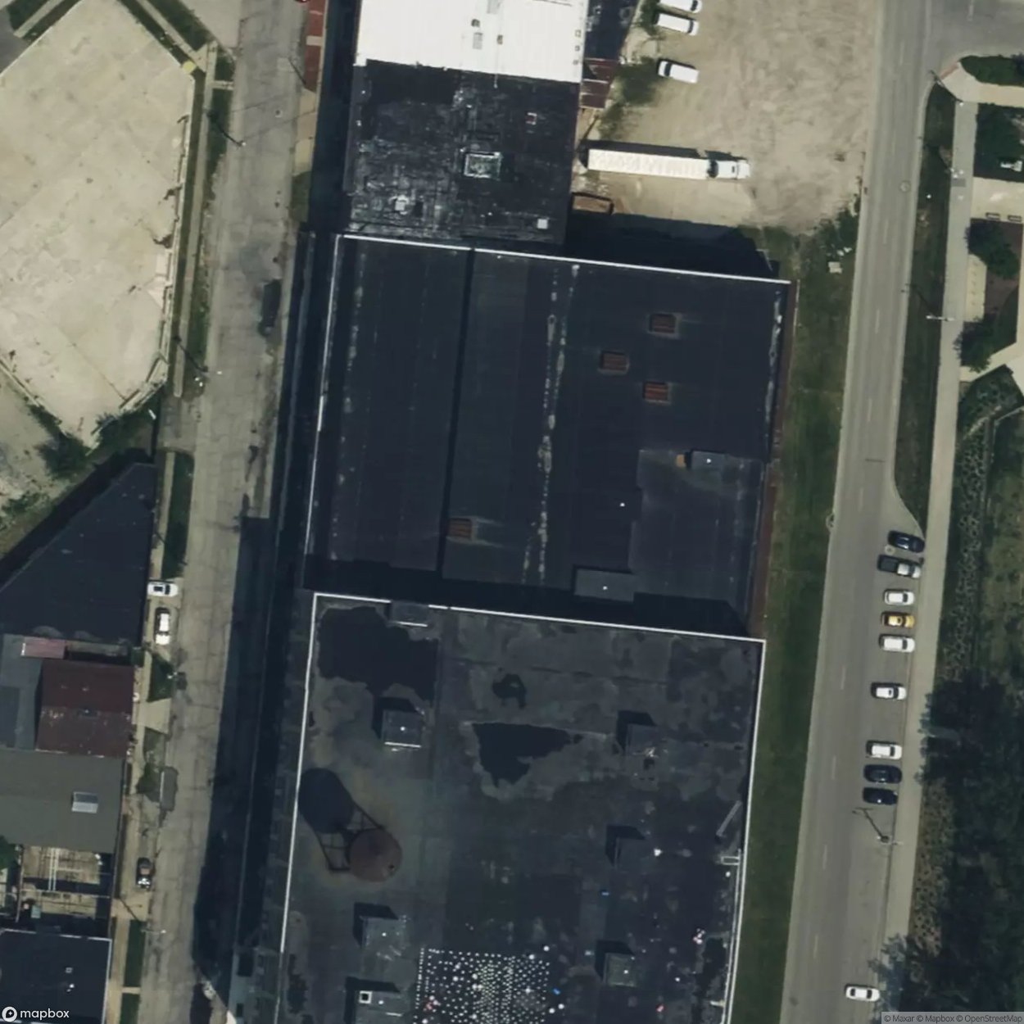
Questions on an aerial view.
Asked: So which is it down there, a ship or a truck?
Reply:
truck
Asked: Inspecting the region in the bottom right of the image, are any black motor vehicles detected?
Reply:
Yes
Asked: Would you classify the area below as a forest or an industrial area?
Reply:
industrial area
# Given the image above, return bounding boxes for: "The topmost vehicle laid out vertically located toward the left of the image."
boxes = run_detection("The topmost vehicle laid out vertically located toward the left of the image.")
[154,609,171,645]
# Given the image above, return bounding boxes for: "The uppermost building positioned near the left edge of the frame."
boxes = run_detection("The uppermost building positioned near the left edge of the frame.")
[0,462,156,644]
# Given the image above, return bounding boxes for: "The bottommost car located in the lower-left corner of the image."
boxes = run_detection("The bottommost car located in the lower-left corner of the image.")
[137,857,154,890]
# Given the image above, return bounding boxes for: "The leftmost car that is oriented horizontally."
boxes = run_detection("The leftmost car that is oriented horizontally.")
[147,582,180,598]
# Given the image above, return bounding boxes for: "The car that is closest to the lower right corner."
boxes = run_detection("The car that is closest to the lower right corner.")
[847,987,880,1003]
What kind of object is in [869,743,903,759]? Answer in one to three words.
car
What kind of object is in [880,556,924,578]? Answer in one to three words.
truck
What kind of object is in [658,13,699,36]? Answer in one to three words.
vehicle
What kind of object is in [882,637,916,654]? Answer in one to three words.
car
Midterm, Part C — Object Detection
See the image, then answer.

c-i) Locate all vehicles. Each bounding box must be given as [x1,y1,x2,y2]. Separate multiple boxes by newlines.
[882,637,916,654]
[154,609,171,645]
[889,531,925,551]
[866,766,902,784]
[882,614,914,630]
[658,60,700,83]
[864,789,898,806]
[884,591,916,607]
[658,13,699,36]
[147,582,180,598]
[873,685,907,701]
[659,0,702,16]
[869,743,903,759]
[584,149,747,182]
[880,556,924,578]
[847,987,880,1003]
[137,857,154,890]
